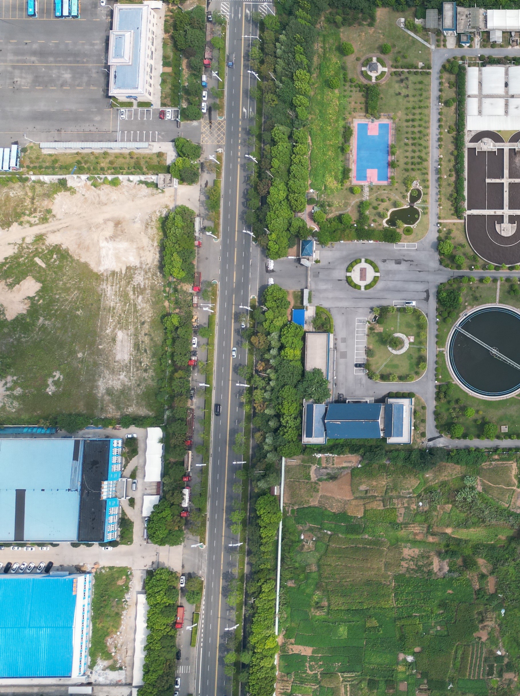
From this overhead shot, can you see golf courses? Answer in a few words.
No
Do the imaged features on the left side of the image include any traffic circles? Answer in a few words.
No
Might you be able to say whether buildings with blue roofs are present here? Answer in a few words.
Yes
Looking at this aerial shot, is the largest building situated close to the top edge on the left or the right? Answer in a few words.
left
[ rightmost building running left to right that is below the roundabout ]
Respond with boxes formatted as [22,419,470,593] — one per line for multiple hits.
[303,398,414,443]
